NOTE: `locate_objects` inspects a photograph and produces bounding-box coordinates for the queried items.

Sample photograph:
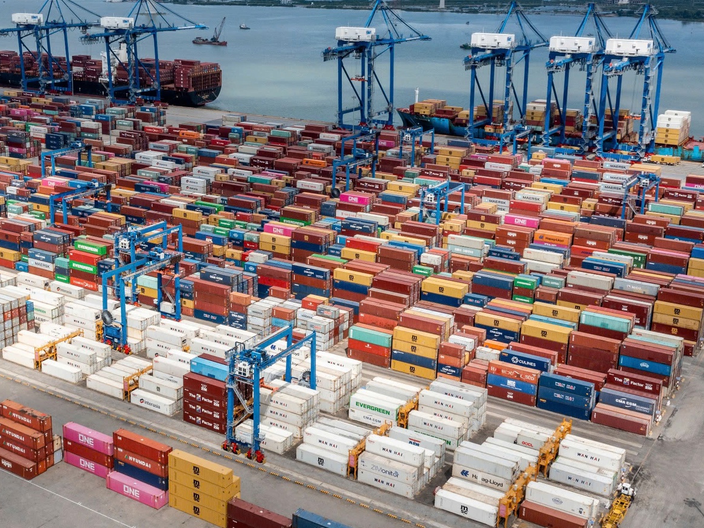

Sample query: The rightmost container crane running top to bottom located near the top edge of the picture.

[592,1,680,167]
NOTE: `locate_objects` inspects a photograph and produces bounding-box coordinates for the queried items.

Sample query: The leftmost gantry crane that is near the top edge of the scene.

[0,0,101,95]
